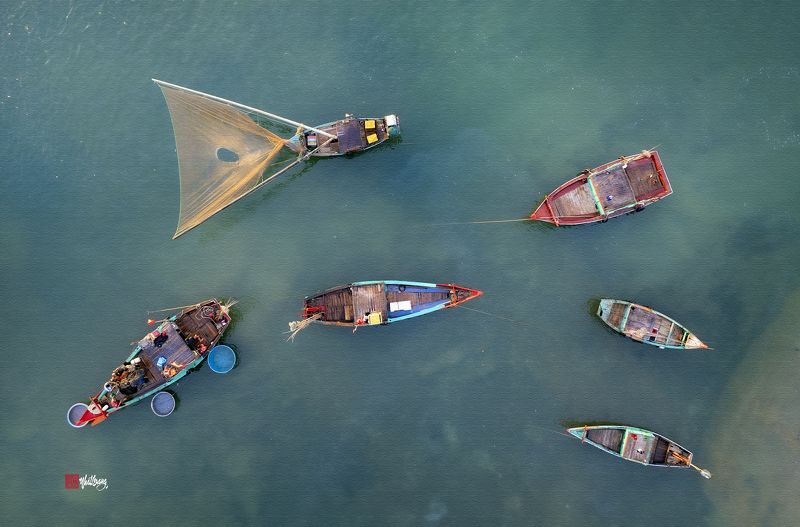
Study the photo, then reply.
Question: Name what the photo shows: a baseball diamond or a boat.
boat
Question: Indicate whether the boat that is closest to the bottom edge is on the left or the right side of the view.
right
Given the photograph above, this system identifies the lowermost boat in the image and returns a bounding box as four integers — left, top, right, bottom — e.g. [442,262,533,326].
[567,424,694,468]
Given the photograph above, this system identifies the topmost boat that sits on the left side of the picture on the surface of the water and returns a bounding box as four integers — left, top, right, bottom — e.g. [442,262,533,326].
[152,78,400,239]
